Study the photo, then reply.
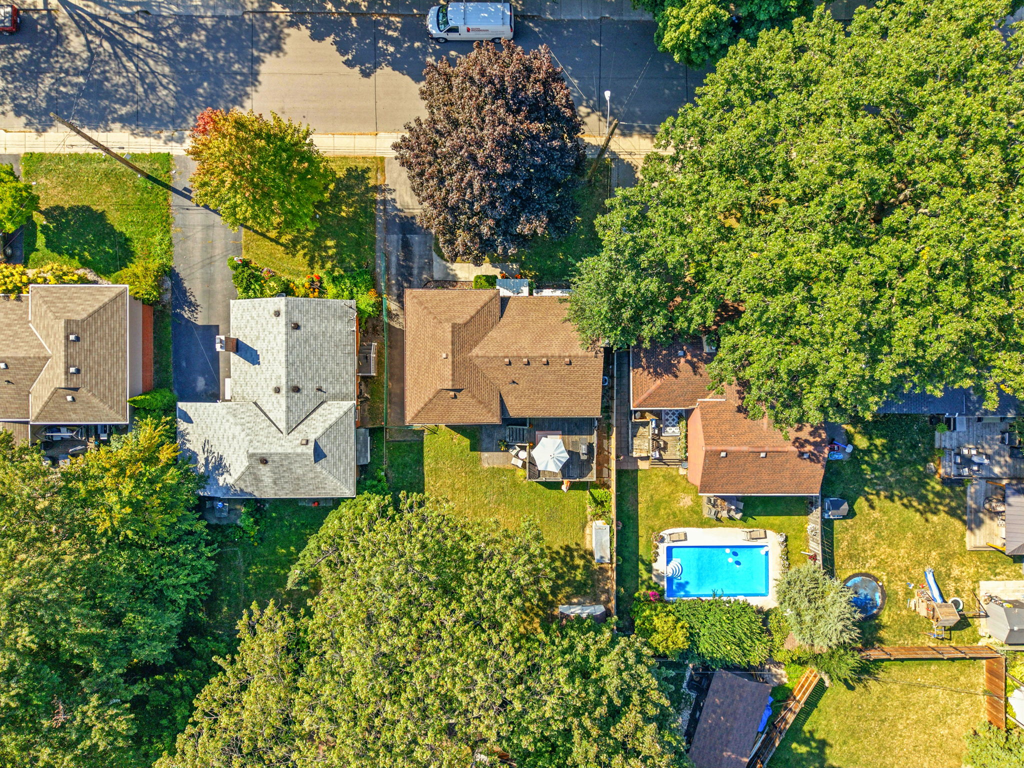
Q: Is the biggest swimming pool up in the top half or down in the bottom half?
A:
bottom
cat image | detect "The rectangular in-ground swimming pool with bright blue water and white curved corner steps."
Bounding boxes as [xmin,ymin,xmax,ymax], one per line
[659,542,773,601]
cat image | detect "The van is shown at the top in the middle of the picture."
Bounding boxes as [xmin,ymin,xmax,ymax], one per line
[427,0,513,44]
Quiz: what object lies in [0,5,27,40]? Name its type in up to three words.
car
